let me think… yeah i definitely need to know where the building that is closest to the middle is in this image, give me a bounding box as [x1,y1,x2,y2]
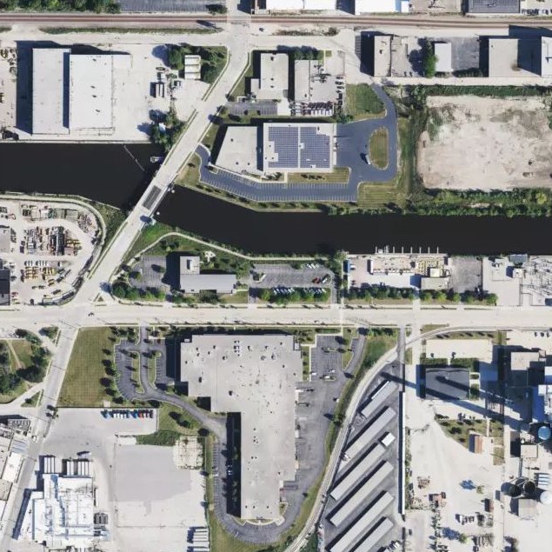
[179,256,235,293]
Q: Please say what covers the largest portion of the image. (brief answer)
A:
paved ground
